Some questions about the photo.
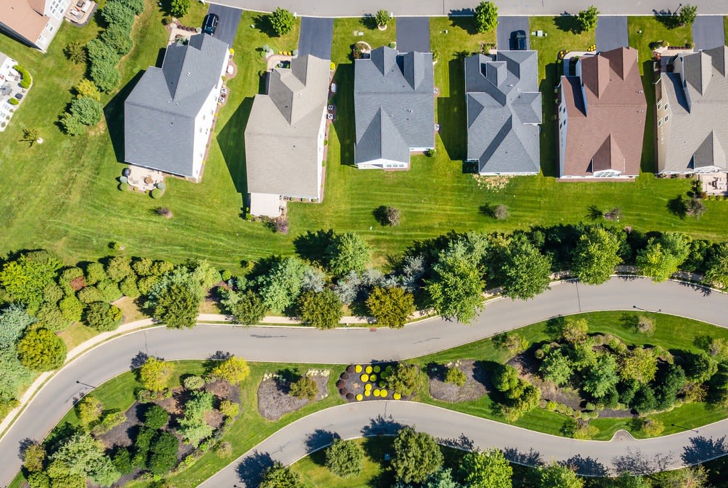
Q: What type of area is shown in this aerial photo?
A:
residential area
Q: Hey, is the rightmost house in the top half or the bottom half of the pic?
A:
top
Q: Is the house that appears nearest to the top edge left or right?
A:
left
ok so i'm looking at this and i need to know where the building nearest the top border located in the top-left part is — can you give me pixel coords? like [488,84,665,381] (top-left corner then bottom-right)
[0,0,90,49]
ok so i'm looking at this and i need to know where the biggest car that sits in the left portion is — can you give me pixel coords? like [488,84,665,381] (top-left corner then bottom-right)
[201,8,219,38]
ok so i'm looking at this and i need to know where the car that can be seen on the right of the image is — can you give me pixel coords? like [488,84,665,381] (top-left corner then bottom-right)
[513,27,526,51]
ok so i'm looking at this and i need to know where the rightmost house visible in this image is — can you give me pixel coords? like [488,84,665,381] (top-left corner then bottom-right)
[656,42,728,180]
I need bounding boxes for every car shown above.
[513,27,526,51]
[201,8,219,38]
